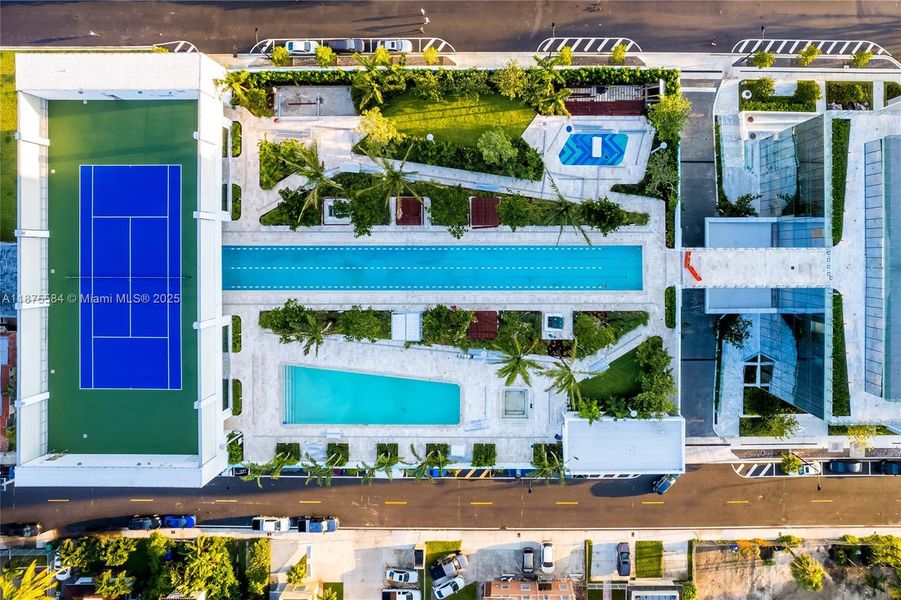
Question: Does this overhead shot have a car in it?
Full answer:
Yes, the frame does contain a car.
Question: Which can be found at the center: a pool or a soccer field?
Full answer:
You can see a pool at the center.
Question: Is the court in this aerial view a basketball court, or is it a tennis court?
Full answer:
The court can be classified as a tennis court.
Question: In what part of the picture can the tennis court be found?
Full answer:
The tennis court is located in the left region of the scene.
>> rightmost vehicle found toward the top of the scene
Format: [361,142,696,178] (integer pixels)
[379,38,414,55]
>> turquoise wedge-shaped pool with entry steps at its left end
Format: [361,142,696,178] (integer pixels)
[282,363,463,428]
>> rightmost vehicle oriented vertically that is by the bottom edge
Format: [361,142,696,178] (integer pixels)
[616,540,632,576]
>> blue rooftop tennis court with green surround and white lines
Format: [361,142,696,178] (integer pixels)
[48,99,198,454]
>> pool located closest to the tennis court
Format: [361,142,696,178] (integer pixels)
[220,245,643,291]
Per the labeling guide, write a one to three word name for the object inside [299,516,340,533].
vehicle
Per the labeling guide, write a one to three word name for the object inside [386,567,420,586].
car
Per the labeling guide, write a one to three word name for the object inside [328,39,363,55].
car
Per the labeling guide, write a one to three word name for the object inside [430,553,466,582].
truck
